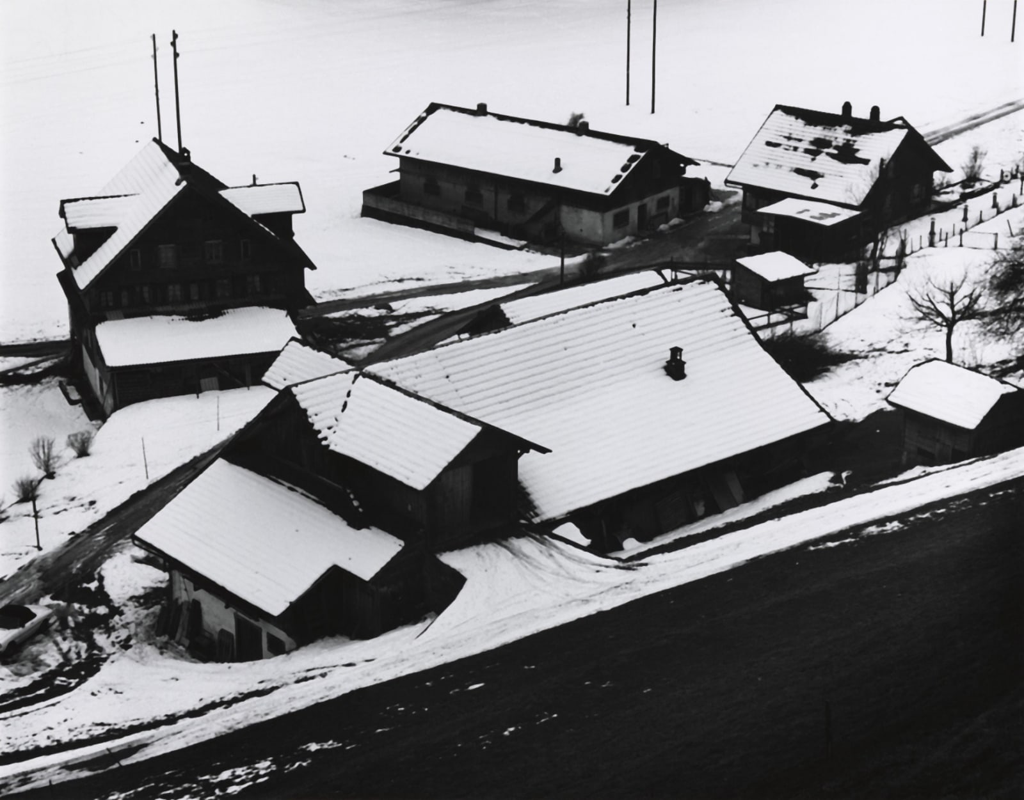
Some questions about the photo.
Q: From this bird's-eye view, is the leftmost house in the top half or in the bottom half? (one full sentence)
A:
The leftmost house is in the top half of the image.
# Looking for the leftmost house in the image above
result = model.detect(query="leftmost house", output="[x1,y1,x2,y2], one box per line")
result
[52,138,320,420]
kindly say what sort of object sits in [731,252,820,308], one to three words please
shed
